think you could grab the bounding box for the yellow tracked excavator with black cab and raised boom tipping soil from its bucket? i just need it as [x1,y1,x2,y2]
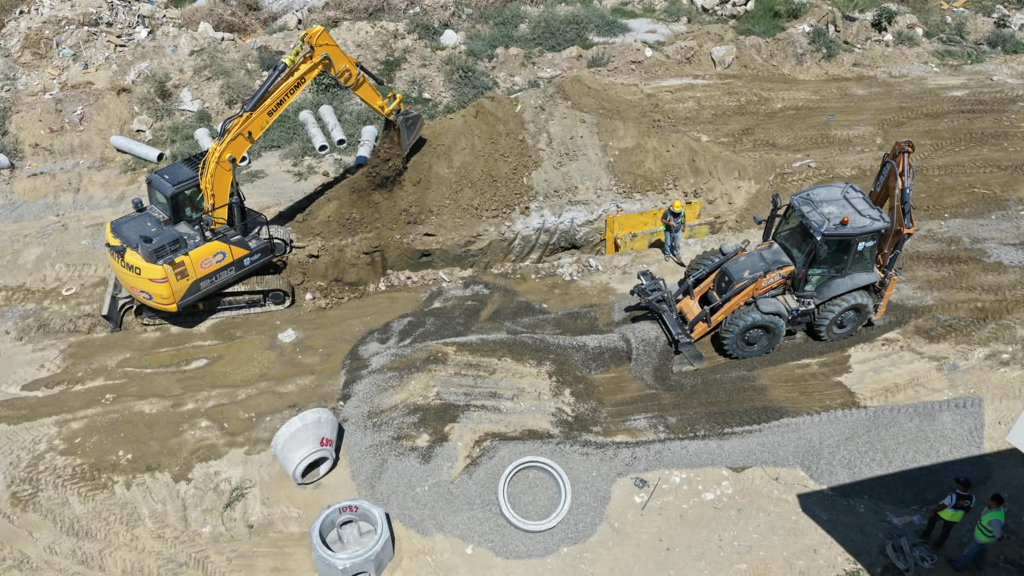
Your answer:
[102,27,426,332]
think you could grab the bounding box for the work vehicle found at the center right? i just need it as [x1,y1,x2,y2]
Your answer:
[628,140,935,372]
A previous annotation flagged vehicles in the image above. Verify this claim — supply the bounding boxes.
[102,27,426,332]
[628,140,935,372]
